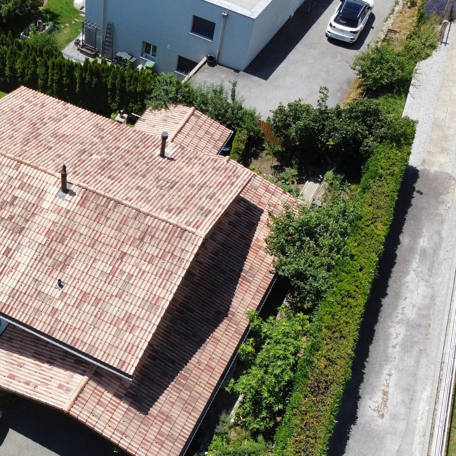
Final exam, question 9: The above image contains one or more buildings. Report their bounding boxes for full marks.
[86,0,300,80]
[0,86,309,456]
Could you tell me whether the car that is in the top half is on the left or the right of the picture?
right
